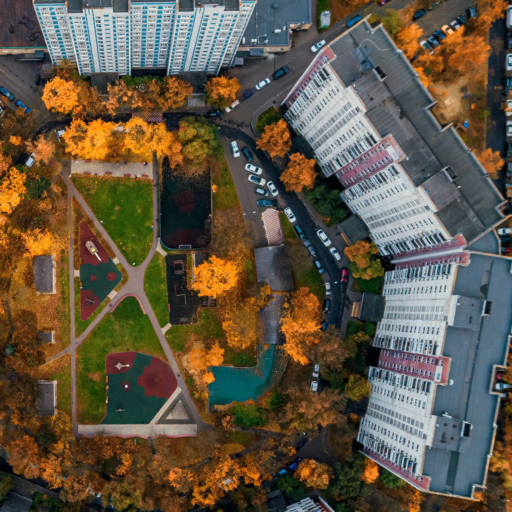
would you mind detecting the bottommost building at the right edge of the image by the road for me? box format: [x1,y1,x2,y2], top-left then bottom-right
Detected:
[353,252,512,504]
